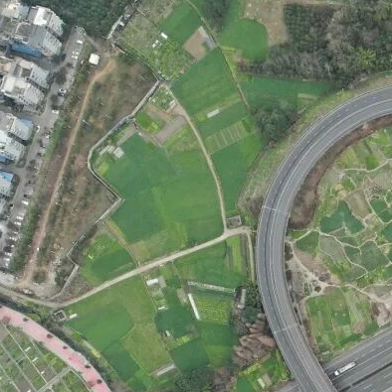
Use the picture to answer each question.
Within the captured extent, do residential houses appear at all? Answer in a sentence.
Yes, you can see a residential house in this photo.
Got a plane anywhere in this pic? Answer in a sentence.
No, no plane is visible in the scene.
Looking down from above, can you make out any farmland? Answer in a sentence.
Yes, farmland can be seen from above here.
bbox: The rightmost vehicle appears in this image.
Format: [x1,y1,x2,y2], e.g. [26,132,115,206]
[333,362,355,376]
